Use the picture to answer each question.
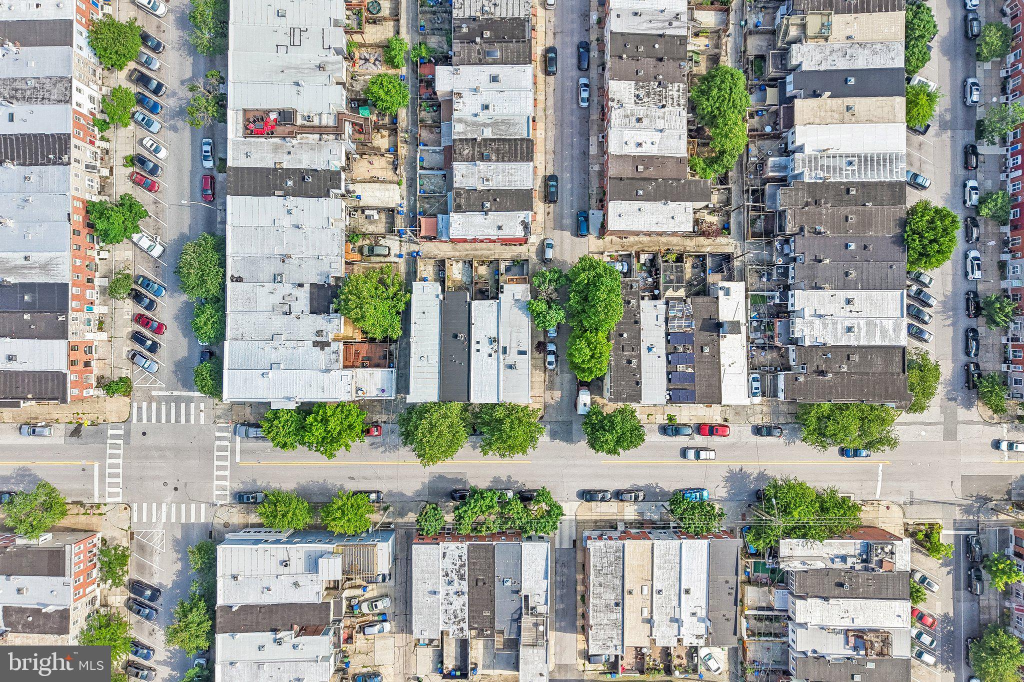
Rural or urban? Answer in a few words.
urban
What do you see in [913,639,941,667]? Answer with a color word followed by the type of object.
white van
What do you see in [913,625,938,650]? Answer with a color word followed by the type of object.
white car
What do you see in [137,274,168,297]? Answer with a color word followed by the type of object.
blue car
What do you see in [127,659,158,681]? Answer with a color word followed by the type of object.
gray car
